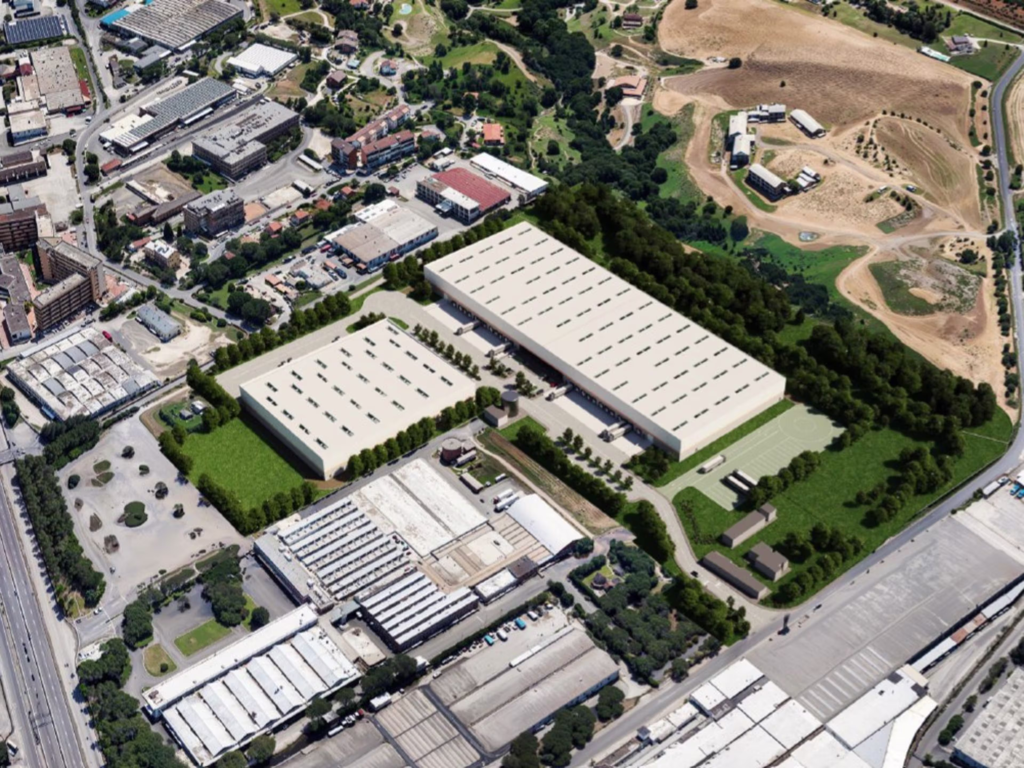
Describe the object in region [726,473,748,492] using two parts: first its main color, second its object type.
white vehicle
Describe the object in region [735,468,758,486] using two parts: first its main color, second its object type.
white vehicle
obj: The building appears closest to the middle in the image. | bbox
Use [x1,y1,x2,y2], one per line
[485,404,509,426]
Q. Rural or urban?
urban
